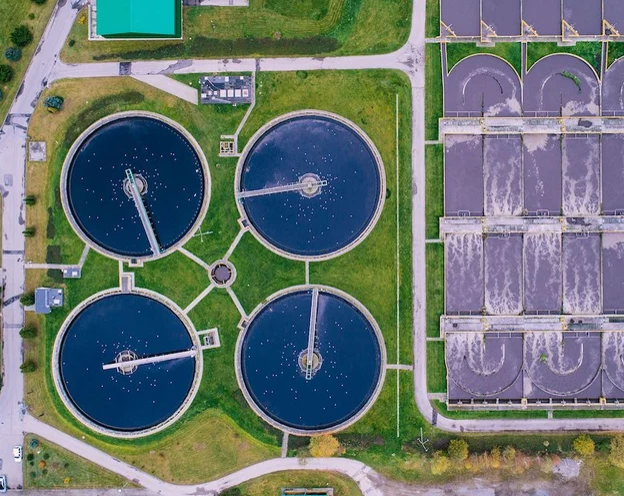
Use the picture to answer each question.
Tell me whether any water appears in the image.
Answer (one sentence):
Yes, there is water in the image.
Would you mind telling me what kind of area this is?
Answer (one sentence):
The picture captures an industrial area.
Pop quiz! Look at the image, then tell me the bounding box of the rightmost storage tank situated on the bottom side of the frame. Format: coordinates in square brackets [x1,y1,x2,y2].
[235,284,386,435]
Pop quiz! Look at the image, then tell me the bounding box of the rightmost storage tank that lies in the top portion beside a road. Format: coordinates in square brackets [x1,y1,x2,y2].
[235,110,386,261]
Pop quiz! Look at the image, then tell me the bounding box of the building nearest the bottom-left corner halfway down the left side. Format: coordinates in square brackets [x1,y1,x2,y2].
[35,288,65,313]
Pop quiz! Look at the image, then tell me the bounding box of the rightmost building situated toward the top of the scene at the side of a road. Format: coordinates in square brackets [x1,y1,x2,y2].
[200,77,251,104]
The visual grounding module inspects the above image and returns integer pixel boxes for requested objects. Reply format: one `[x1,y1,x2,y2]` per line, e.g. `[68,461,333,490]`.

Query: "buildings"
[63,268,82,277]
[200,77,251,104]
[96,0,180,38]
[35,288,65,313]
[280,490,328,496]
